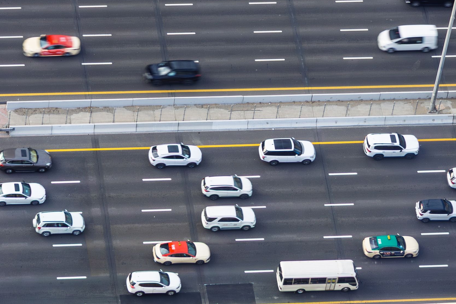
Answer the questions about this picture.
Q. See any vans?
Yes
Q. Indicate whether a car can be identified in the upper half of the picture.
Yes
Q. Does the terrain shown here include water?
No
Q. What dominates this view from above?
paved ground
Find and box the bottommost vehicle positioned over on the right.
[277,258,360,297]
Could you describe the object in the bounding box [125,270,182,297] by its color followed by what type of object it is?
white car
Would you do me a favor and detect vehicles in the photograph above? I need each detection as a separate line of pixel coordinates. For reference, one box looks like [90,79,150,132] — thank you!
[147,142,203,169]
[0,148,54,174]
[446,167,456,189]
[406,0,455,7]
[152,239,211,265]
[362,233,420,259]
[363,133,420,161]
[145,60,201,88]
[277,258,360,297]
[199,206,257,233]
[379,25,436,54]
[0,180,46,207]
[258,138,316,166]
[31,211,86,238]
[415,198,456,223]
[200,174,254,200]
[125,270,182,297]
[24,33,79,58]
